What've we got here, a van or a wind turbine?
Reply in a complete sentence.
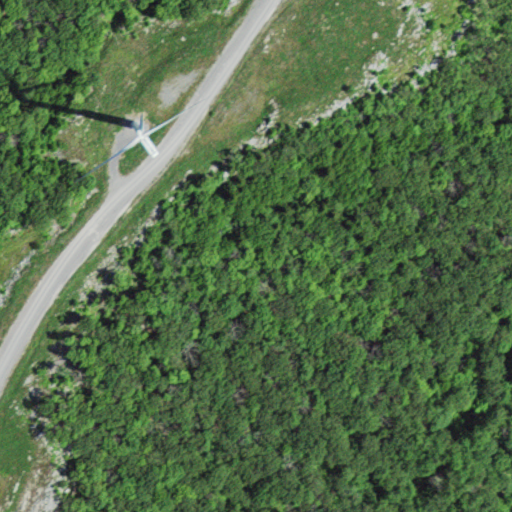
The one in the frame is a wind turbine.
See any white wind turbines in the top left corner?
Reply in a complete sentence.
Yes, you'll find a white wind turbine in the top left corner.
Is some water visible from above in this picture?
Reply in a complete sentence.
No, there is no water in the image.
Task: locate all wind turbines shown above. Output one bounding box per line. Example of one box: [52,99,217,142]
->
[66,96,202,183]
